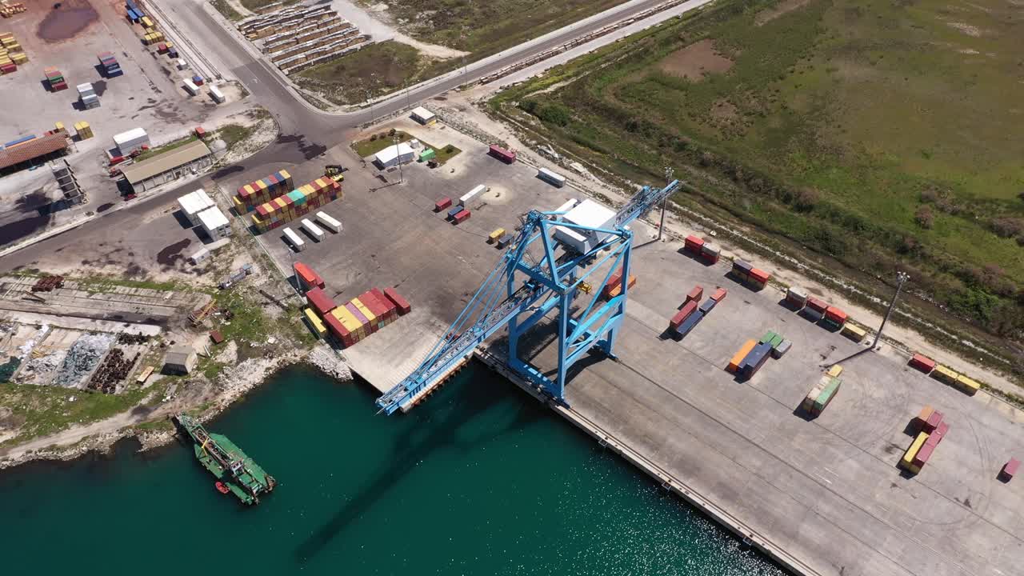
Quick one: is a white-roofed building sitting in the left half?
Yes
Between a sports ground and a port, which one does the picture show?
port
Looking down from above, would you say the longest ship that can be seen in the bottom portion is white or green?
green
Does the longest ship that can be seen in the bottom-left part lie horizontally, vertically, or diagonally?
diagonally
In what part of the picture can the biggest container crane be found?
center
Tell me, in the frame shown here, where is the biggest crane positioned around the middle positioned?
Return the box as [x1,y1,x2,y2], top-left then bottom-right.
[360,180,685,418]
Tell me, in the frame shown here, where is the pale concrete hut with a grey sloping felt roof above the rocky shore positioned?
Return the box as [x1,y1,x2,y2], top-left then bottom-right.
[160,343,190,372]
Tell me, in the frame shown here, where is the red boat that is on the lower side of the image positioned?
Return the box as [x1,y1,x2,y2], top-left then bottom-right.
[214,481,230,494]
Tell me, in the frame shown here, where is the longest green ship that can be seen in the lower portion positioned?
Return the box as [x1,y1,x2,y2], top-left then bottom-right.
[172,409,276,506]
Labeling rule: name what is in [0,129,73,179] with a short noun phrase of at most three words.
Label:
shed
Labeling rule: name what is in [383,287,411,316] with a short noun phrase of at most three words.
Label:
shipping container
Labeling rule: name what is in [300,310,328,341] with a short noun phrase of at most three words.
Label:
shipping container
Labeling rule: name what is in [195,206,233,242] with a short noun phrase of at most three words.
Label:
building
